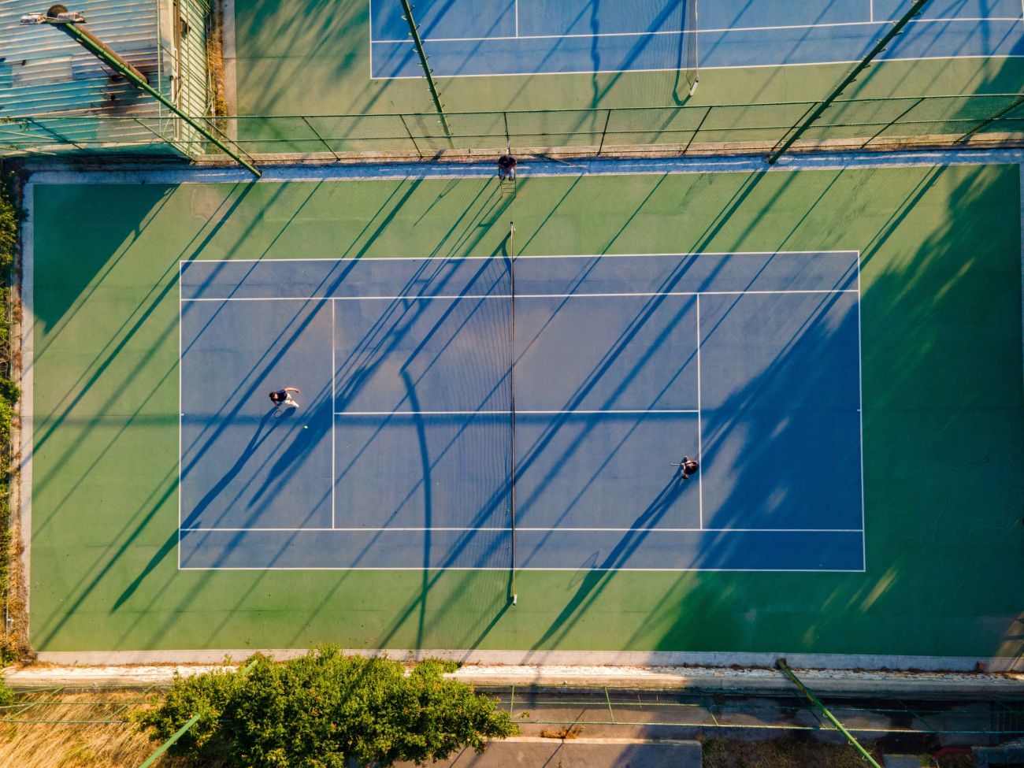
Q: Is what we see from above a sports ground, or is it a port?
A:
sports ground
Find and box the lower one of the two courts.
[30,166,1024,658]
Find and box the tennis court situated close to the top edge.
[237,0,1024,149]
